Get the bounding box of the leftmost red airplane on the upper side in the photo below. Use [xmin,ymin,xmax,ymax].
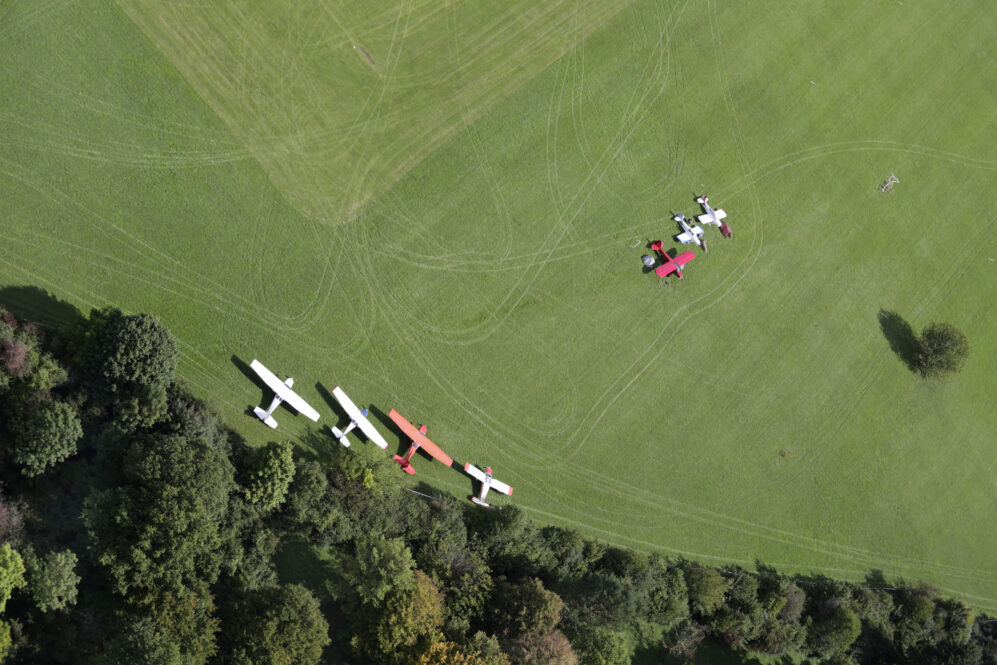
[646,241,695,277]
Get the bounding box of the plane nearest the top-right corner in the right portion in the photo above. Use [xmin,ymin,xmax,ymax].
[697,195,730,241]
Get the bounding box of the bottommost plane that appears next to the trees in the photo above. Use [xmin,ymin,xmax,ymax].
[464,463,511,509]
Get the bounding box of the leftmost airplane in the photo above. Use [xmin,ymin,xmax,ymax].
[251,360,321,427]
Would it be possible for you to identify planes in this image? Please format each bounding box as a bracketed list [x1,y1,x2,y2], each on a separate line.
[251,360,321,427]
[329,387,389,448]
[389,408,455,471]
[646,241,695,277]
[464,463,511,509]
[697,195,730,241]
[675,213,706,255]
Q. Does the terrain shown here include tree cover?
Yes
